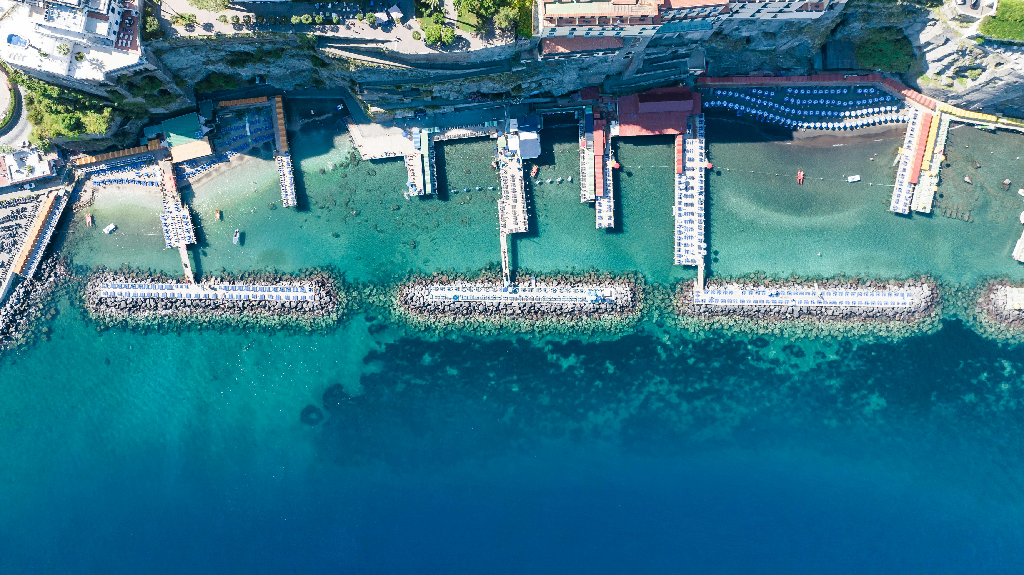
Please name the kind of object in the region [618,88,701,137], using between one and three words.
house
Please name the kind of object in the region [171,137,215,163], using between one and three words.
building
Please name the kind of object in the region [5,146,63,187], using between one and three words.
house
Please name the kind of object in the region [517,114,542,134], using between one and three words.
building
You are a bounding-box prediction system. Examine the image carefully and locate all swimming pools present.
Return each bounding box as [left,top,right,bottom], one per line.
[6,33,33,50]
